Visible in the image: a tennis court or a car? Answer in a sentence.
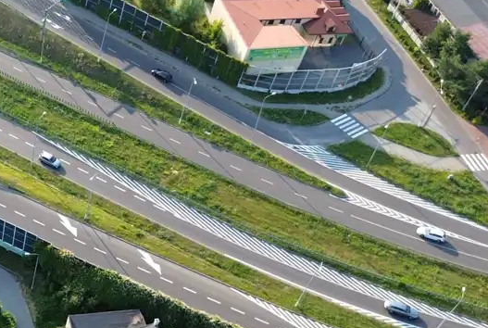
I can see a car in this picture.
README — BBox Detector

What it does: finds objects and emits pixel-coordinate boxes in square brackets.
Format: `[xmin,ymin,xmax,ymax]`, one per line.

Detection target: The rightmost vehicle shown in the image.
[417,224,449,241]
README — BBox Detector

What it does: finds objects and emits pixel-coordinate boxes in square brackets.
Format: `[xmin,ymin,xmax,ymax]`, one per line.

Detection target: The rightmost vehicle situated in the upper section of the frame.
[151,68,173,81]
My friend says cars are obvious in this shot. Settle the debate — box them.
[386,299,419,319]
[417,224,449,241]
[38,150,62,168]
[151,68,173,81]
